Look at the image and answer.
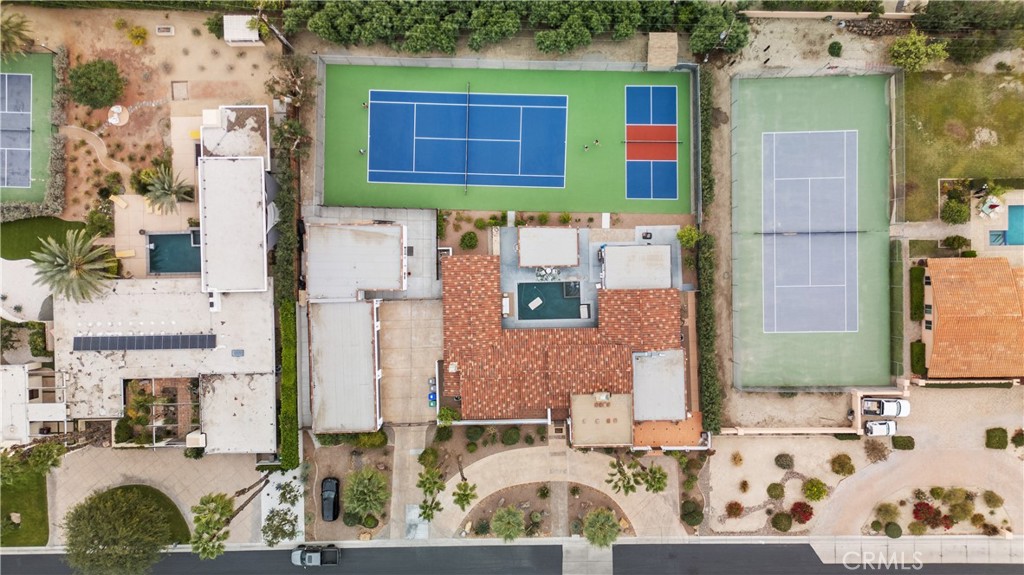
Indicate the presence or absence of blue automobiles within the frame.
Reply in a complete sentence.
No, no blue automobile is visible in the view.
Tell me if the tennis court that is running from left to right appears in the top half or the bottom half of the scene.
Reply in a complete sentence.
The tennis court that is running from left to right is in the top half of the image.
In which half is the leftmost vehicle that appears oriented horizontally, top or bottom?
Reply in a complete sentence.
Seen from above, the leftmost vehicle that appears oriented horizontally lies in the bottom half of the view.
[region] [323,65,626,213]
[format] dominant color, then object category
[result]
green tennis court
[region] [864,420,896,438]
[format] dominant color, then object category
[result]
white car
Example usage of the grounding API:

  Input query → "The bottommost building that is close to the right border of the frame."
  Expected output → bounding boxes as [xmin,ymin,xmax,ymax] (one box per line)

[921,258,1024,378]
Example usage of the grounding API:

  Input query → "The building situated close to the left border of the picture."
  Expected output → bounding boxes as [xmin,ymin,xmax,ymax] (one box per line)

[0,106,279,453]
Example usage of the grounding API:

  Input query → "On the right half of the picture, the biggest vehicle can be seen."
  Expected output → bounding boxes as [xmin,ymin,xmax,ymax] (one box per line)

[863,398,910,419]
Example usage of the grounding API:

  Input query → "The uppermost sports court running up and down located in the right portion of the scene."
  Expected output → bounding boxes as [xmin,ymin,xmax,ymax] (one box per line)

[626,70,692,214]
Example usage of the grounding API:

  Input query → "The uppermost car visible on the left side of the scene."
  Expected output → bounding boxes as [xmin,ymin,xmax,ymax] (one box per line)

[319,477,341,521]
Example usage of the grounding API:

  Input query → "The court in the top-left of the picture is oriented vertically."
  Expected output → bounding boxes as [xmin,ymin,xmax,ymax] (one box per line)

[0,54,52,205]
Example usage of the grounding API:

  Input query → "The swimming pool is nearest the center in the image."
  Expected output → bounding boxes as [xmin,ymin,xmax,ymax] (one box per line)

[515,279,583,322]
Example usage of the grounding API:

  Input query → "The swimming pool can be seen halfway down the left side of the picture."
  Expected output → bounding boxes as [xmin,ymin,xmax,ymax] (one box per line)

[145,229,201,276]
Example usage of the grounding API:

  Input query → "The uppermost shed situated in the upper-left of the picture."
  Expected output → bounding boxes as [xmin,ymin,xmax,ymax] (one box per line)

[223,15,264,47]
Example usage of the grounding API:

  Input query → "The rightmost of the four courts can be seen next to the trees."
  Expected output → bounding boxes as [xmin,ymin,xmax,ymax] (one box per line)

[733,74,891,387]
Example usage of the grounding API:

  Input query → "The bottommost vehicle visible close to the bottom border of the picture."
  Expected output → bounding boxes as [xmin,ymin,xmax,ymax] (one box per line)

[292,545,342,569]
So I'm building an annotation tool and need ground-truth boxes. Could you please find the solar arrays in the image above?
[74,335,216,350]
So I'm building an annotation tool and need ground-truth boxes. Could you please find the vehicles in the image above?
[292,545,342,569]
[319,477,341,521]
[864,420,896,438]
[863,398,910,419]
